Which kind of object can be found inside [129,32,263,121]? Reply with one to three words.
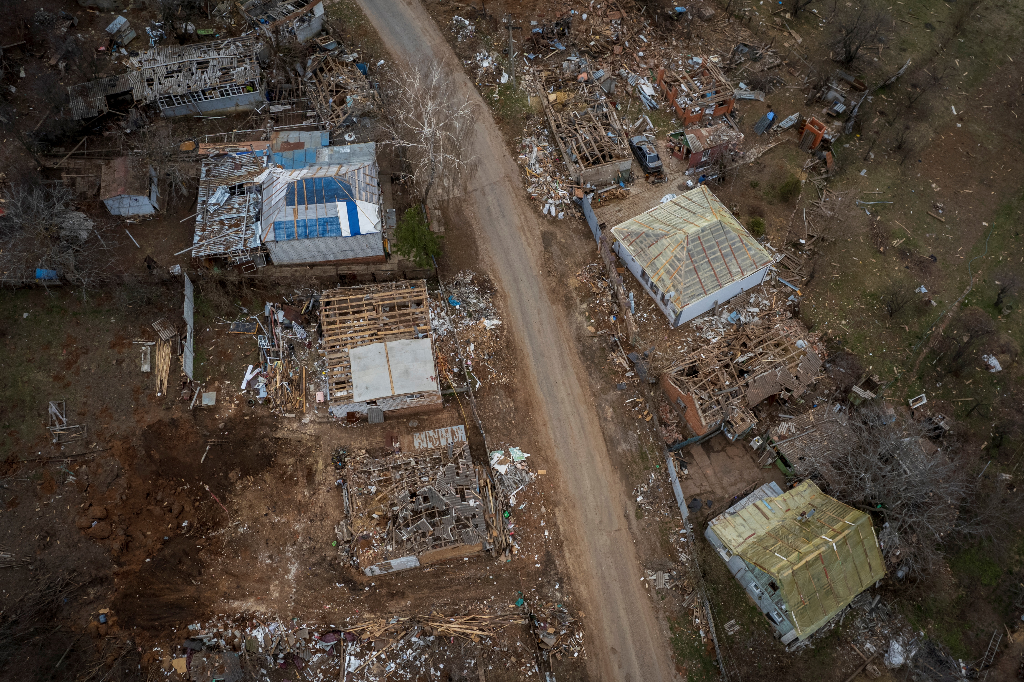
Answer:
building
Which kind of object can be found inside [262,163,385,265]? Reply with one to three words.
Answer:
house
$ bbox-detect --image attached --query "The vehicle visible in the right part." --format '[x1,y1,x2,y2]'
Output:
[631,135,665,172]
